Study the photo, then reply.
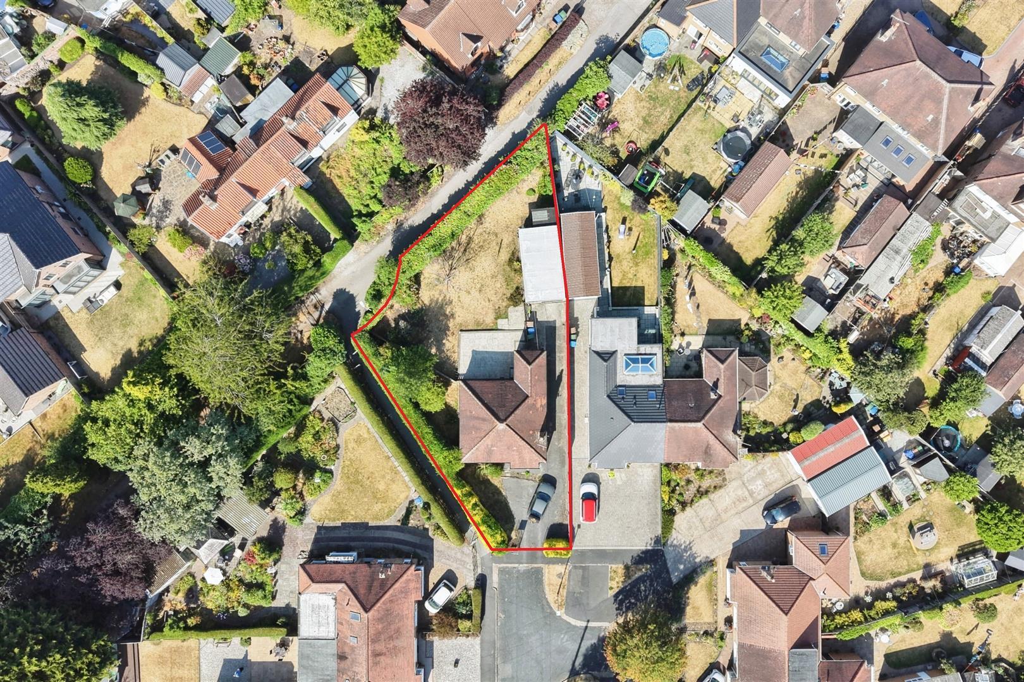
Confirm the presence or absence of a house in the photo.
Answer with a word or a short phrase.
Yes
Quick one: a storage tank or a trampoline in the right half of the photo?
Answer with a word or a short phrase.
trampoline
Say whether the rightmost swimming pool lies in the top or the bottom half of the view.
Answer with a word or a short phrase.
top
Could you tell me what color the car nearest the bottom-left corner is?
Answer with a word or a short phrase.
white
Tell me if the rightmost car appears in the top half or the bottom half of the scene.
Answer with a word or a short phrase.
top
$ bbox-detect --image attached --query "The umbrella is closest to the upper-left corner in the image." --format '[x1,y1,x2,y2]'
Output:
[116,193,141,218]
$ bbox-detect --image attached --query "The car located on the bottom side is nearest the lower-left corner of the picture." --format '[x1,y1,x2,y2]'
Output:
[425,580,455,613]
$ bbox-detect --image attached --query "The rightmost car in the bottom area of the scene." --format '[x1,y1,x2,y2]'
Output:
[764,497,805,527]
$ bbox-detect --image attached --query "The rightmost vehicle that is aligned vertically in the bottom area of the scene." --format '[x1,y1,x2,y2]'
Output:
[580,484,600,524]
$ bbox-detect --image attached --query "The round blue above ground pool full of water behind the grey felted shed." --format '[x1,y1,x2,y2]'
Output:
[639,24,672,59]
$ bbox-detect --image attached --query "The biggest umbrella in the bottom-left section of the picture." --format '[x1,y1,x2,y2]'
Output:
[204,565,224,585]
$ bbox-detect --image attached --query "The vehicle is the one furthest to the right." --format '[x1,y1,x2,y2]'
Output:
[1000,72,1024,110]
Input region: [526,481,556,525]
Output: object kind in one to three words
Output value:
car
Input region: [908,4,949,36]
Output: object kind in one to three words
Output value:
car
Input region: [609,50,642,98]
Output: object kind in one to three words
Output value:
shed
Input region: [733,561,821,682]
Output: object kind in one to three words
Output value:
house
